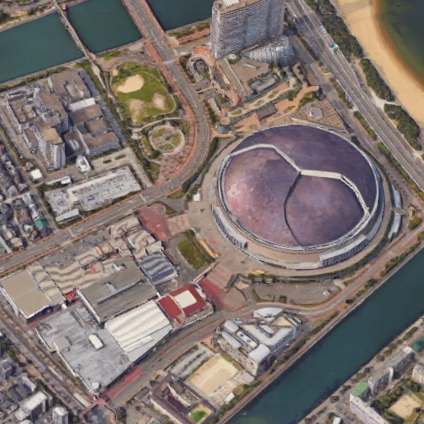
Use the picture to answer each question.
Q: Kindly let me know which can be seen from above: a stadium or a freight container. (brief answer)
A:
stadium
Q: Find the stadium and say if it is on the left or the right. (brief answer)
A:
right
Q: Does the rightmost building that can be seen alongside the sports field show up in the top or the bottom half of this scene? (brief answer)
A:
bottom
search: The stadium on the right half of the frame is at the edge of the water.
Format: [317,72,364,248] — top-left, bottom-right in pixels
[206,125,390,277]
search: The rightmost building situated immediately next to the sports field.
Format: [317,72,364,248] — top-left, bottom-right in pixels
[214,308,297,375]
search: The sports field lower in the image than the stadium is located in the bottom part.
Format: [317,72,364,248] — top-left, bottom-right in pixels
[190,358,238,393]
